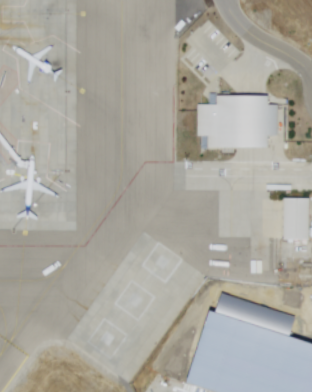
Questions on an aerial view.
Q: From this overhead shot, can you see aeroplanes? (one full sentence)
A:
Yes, there's an aeroplane here.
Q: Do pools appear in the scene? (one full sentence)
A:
No, no pool can be seen from above.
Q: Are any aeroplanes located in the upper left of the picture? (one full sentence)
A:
Yes, in the upper left of the picture there is an aeroplane.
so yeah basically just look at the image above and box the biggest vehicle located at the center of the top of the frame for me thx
[172,18,187,32]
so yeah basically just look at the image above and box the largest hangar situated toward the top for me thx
[197,92,278,152]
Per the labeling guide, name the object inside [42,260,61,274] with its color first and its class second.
white vehicle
